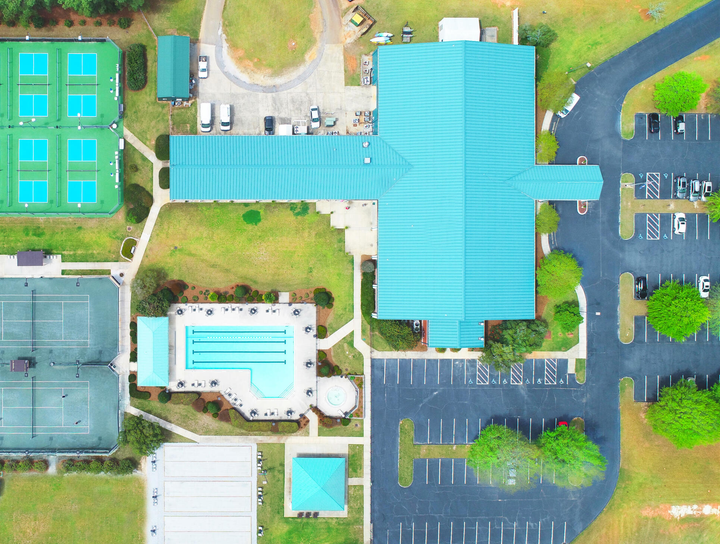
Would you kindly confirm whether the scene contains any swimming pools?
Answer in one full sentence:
Yes, I can see a swimming pool in this picture.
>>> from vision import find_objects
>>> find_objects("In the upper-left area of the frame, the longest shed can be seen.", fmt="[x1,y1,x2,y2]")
[158,34,190,100]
